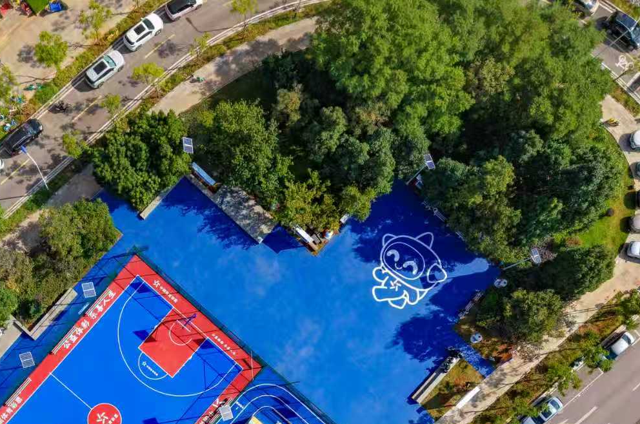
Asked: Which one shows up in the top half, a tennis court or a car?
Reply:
car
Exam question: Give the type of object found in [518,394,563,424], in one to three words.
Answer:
car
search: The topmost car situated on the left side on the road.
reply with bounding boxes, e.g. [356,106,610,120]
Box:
[162,0,203,27]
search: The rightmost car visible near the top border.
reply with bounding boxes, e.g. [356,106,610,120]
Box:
[603,9,640,52]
